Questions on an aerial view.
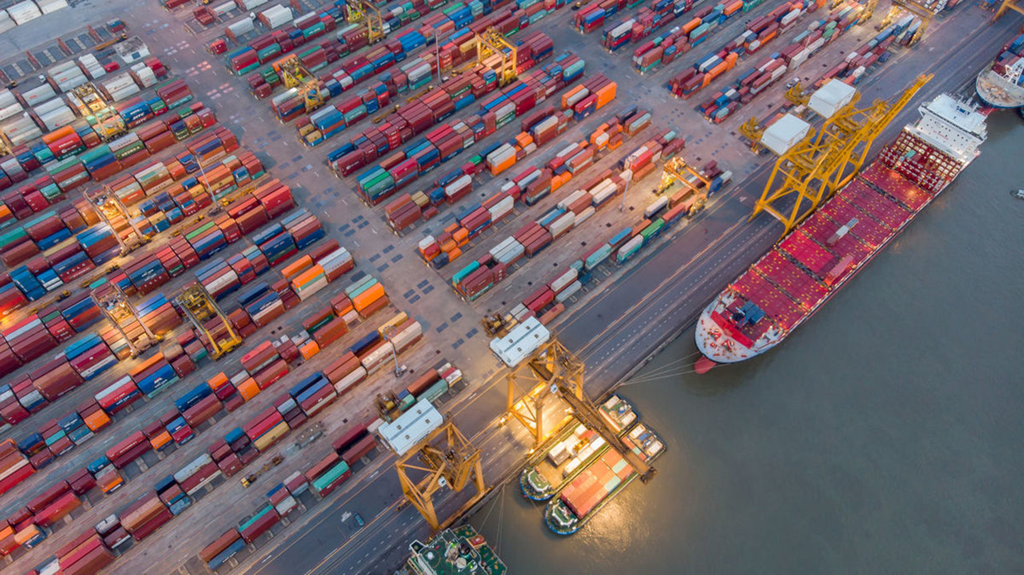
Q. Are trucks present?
Yes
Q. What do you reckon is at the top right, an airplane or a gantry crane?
gantry crane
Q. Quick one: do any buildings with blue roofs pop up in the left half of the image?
No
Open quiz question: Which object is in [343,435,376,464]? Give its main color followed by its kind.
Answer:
red shipping container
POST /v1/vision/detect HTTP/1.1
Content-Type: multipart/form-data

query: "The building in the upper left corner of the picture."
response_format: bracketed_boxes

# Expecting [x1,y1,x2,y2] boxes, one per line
[113,35,149,62]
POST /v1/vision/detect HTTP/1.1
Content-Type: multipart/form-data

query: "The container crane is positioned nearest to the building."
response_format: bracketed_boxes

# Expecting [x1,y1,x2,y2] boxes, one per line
[66,75,133,145]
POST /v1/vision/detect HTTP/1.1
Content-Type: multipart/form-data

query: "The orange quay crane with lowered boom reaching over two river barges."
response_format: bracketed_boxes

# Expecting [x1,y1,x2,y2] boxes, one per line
[486,313,668,489]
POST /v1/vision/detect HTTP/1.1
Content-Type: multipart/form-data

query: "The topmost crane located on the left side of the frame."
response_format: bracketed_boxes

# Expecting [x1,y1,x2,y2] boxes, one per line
[344,0,391,46]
